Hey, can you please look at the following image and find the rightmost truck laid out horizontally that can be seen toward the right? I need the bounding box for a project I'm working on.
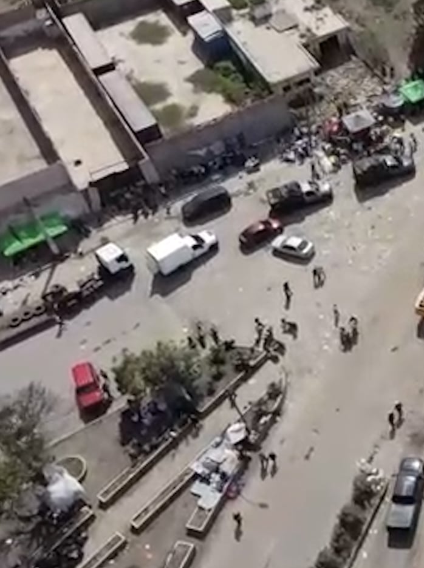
[348,148,419,189]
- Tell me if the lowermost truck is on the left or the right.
right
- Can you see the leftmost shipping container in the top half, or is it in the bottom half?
top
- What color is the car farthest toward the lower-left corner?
red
